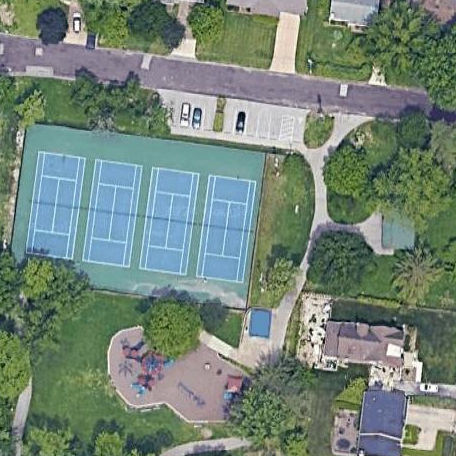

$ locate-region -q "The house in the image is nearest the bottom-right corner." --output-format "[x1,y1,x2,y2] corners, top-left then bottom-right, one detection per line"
[357,391,405,456]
